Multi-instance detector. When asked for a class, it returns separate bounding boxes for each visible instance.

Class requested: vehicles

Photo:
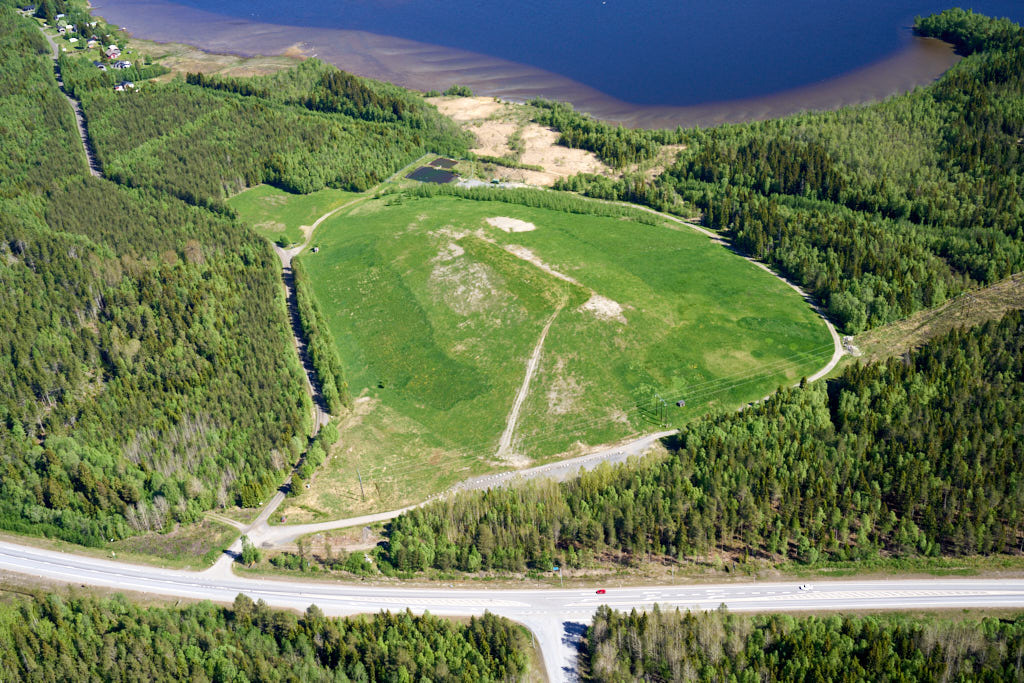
[596,588,606,594]
[799,583,813,590]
